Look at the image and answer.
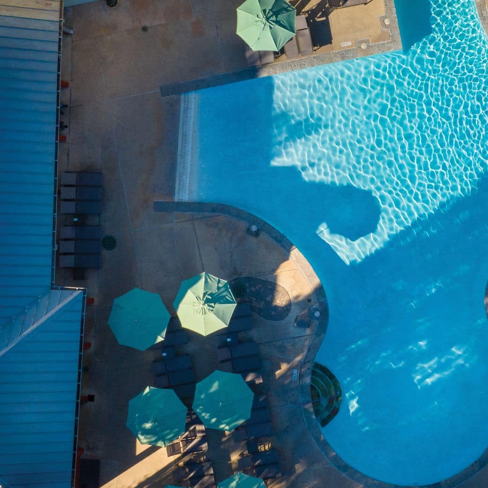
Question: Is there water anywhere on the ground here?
Yes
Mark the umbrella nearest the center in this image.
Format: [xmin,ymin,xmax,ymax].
[176,272,239,335]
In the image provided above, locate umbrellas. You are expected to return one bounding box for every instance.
[194,369,256,429]
[129,385,188,446]
[219,470,269,488]
[110,287,173,351]
[238,0,297,51]
[176,272,239,335]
